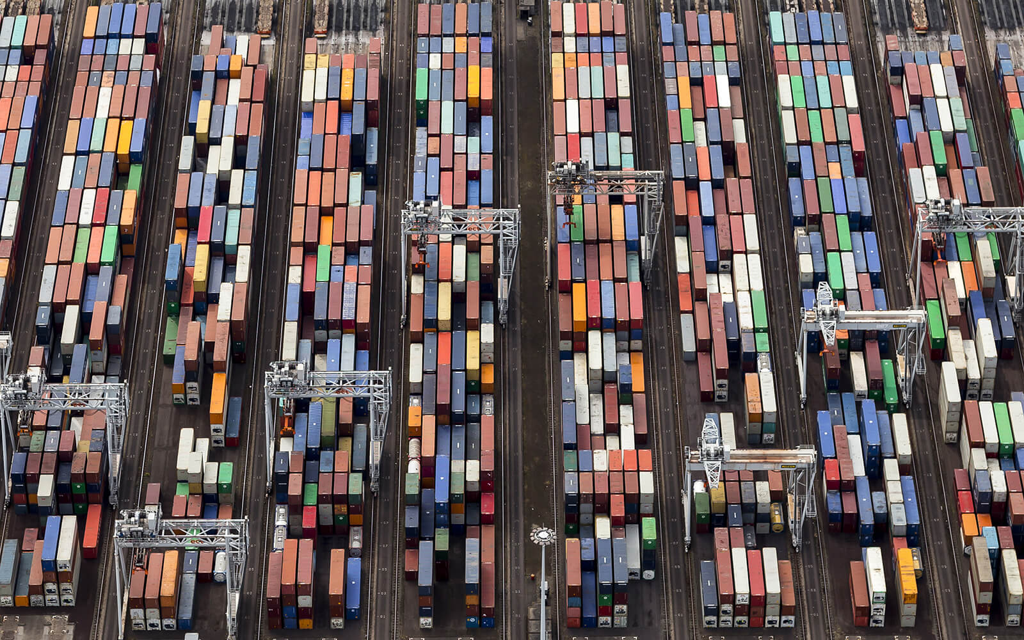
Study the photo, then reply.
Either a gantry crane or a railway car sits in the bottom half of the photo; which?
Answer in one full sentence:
Visible in the bottom half of the photo is a gantry crane.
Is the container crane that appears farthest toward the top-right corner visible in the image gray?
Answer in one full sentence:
Yes, the container crane that appears farthest toward the top-right corner is gray.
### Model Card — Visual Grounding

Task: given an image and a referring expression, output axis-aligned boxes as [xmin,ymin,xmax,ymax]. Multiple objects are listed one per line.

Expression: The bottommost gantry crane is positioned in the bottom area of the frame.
[110,493,248,638]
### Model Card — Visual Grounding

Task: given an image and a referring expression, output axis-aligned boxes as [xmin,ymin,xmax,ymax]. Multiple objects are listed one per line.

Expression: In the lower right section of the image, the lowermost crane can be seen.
[681,416,817,559]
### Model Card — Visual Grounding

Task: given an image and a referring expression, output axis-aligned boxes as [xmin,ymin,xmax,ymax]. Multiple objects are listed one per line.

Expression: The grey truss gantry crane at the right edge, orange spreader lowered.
[911,183,1024,327]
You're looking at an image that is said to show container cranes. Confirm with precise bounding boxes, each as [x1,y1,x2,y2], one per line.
[681,416,817,559]
[546,147,665,291]
[911,183,1024,327]
[110,493,248,638]
[0,360,127,514]
[399,186,519,332]
[262,345,390,504]
[795,279,929,414]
